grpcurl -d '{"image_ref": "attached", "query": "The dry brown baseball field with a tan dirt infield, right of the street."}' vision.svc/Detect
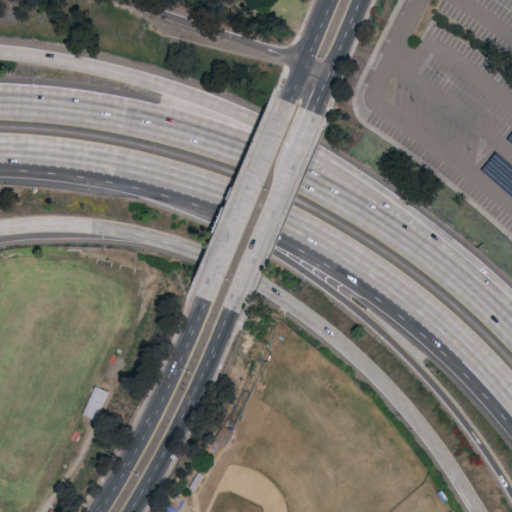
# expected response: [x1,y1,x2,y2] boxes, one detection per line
[196,318,452,512]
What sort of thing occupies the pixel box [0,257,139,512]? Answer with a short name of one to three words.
sports field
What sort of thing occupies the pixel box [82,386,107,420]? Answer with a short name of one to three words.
building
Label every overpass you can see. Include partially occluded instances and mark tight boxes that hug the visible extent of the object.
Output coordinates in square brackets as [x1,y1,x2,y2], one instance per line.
[187,90,328,316]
